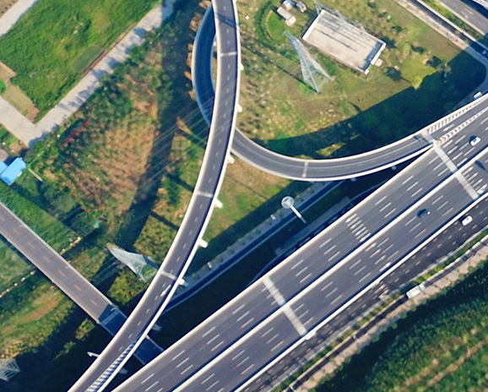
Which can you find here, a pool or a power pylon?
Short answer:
power pylon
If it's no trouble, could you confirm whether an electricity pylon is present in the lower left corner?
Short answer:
Yes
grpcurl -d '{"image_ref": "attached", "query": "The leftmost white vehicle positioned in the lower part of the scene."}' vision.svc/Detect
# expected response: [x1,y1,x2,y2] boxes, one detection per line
[407,285,423,298]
